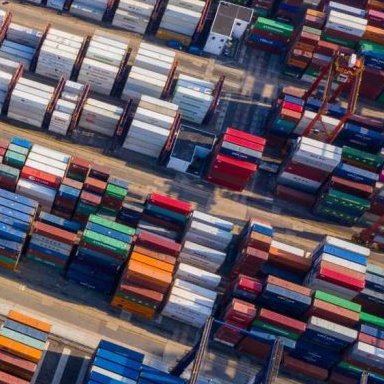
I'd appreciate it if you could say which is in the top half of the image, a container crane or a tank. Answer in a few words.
container crane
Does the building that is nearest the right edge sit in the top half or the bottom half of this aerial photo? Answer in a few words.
top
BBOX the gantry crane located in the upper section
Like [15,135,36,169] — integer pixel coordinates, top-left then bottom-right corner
[287,47,368,154]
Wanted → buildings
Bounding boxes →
[203,1,253,55]
[166,124,216,174]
